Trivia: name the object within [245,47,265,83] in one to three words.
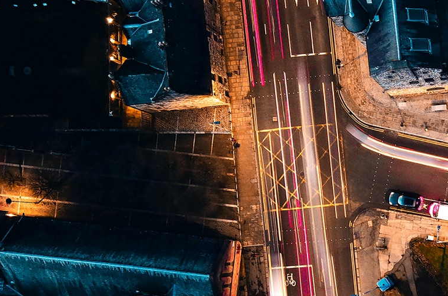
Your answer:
car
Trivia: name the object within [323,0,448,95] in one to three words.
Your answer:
building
